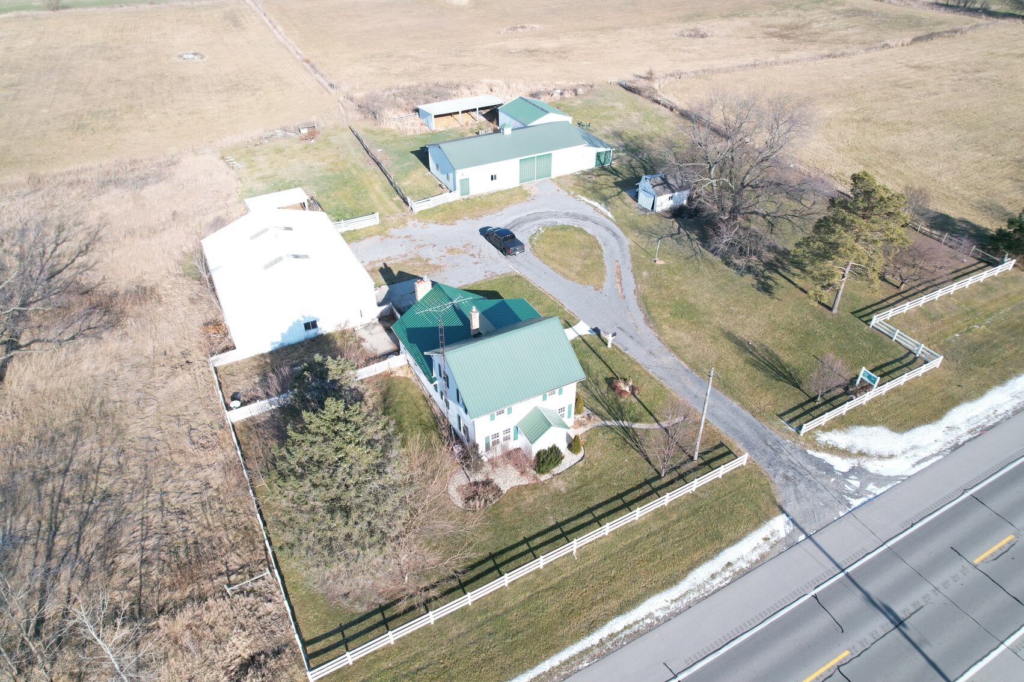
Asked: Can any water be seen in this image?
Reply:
No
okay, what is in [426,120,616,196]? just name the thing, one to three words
barn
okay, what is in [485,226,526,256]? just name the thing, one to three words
truck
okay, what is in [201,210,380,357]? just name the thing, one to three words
building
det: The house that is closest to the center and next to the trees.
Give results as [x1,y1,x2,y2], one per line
[392,275,585,462]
